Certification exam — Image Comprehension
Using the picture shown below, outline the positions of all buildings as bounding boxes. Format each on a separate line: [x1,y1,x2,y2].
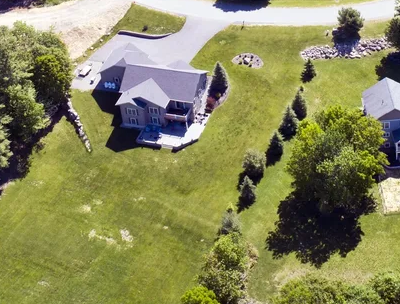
[358,73,400,166]
[100,41,206,130]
